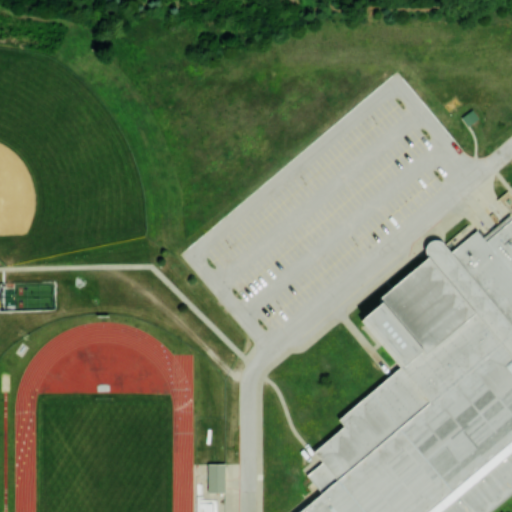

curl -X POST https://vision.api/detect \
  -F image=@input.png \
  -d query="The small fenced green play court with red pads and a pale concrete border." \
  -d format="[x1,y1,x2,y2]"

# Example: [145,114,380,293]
[0,280,58,314]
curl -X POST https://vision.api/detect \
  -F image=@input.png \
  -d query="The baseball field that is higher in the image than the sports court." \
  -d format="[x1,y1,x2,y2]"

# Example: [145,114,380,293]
[0,47,146,266]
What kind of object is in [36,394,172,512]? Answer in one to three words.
sports field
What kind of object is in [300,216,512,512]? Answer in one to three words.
building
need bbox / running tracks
[16,322,194,512]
